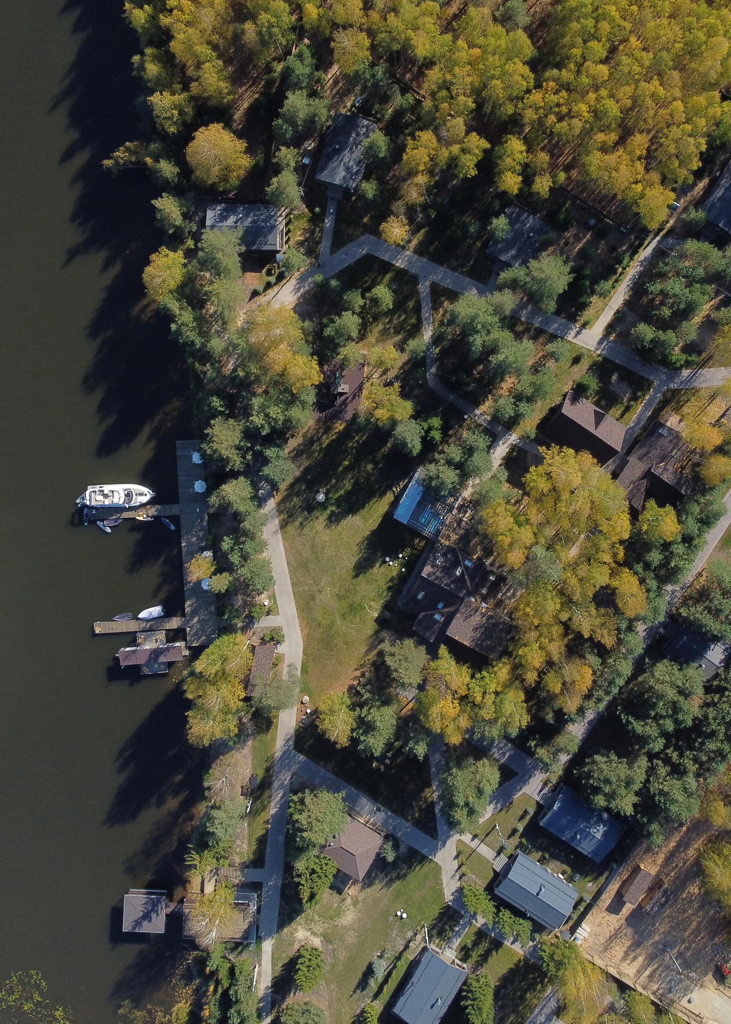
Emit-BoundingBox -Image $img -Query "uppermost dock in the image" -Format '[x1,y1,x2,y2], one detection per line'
[88,504,180,520]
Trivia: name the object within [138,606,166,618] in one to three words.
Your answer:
boat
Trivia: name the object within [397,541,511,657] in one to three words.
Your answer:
building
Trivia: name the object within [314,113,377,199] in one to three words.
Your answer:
building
